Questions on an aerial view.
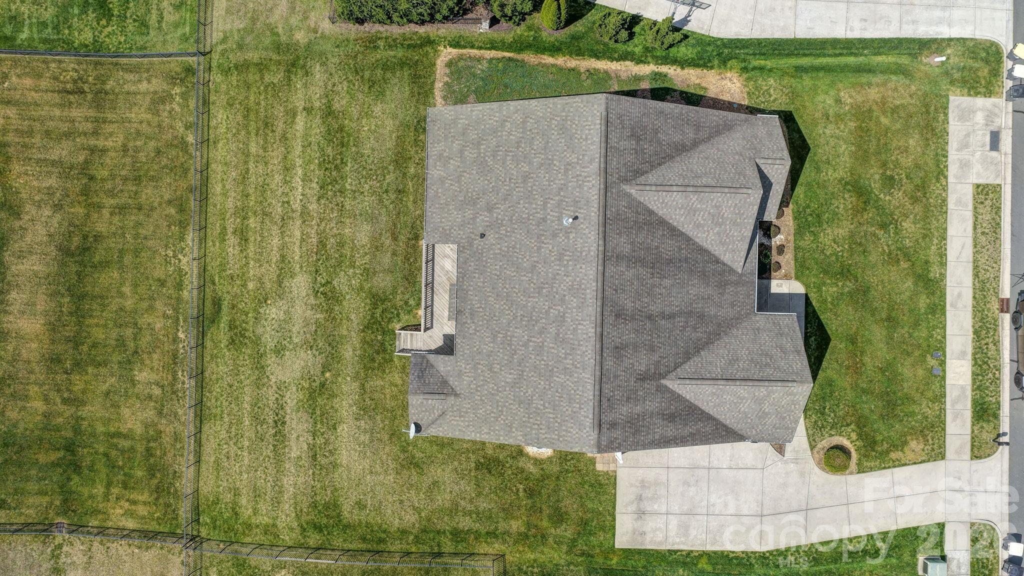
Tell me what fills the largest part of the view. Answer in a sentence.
What you mostly see from above here is grass.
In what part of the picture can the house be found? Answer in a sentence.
You can find the house in the center area of the picture.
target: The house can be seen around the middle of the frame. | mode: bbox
[408,94,813,462]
